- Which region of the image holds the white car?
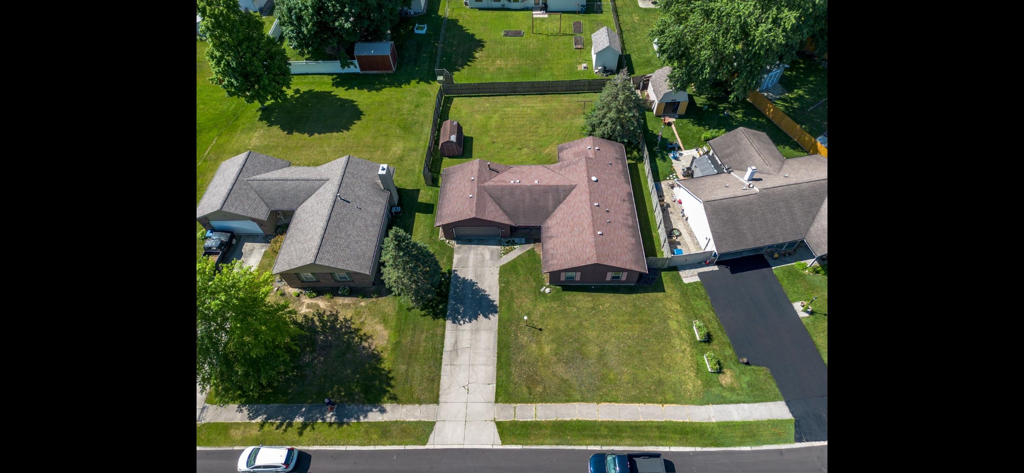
bottom left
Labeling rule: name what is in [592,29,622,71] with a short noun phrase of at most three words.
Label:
shed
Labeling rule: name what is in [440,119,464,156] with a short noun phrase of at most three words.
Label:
shed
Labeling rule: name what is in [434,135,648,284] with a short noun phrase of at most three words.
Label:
house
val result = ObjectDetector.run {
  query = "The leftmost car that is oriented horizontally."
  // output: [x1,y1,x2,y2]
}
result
[235,445,301,473]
